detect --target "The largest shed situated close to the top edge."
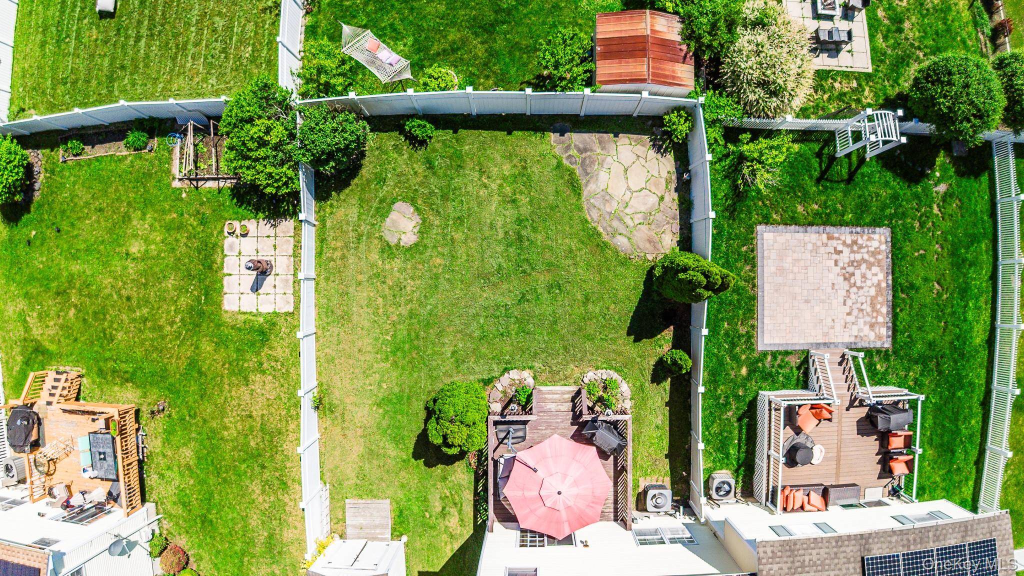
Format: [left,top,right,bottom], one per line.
[591,10,695,105]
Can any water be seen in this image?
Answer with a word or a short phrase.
No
